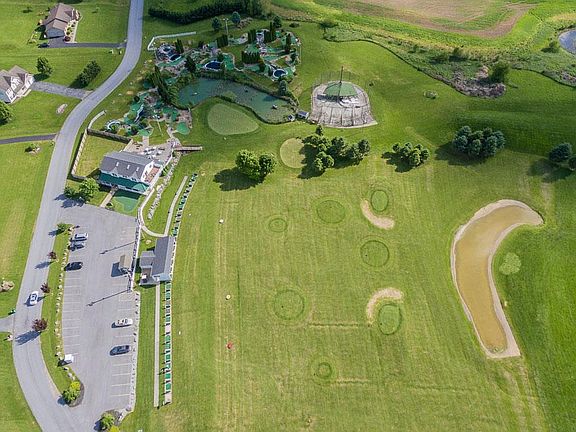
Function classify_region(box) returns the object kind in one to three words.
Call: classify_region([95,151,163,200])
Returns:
building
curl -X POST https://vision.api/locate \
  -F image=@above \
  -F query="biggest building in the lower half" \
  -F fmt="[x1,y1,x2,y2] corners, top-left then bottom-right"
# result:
[140,235,180,288]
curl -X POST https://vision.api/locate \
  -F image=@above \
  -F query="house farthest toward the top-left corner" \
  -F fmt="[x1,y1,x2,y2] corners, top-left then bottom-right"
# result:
[43,2,79,40]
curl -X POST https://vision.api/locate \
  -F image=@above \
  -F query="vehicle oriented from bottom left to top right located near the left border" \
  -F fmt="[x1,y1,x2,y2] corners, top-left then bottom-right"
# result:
[27,291,41,306]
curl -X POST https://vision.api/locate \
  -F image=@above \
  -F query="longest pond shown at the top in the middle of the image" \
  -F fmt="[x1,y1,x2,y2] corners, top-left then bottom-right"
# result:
[179,79,295,124]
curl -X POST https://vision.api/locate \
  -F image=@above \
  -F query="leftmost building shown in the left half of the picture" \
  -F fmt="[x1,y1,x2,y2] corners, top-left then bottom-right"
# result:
[0,66,36,105]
